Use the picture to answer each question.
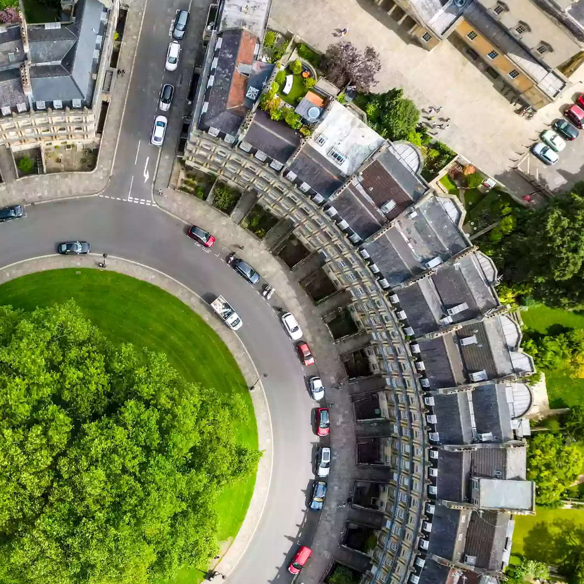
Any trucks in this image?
Yes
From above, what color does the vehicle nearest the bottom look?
red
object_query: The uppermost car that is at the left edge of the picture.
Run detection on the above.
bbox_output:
[0,204,25,222]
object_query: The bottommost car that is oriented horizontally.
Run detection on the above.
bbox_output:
[60,240,89,255]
